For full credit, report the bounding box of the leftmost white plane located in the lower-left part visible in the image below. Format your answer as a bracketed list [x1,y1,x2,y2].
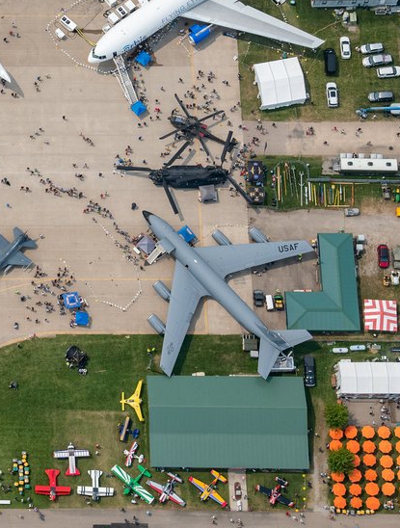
[53,443,90,476]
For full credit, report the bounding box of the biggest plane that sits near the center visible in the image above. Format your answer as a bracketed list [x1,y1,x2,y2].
[144,213,316,382]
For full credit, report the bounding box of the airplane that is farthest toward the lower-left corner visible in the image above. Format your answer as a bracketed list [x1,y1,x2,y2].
[34,469,72,502]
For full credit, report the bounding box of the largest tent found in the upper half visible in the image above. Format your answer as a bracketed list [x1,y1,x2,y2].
[251,58,308,111]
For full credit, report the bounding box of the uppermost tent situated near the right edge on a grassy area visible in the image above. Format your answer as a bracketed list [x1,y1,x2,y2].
[362,300,399,336]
